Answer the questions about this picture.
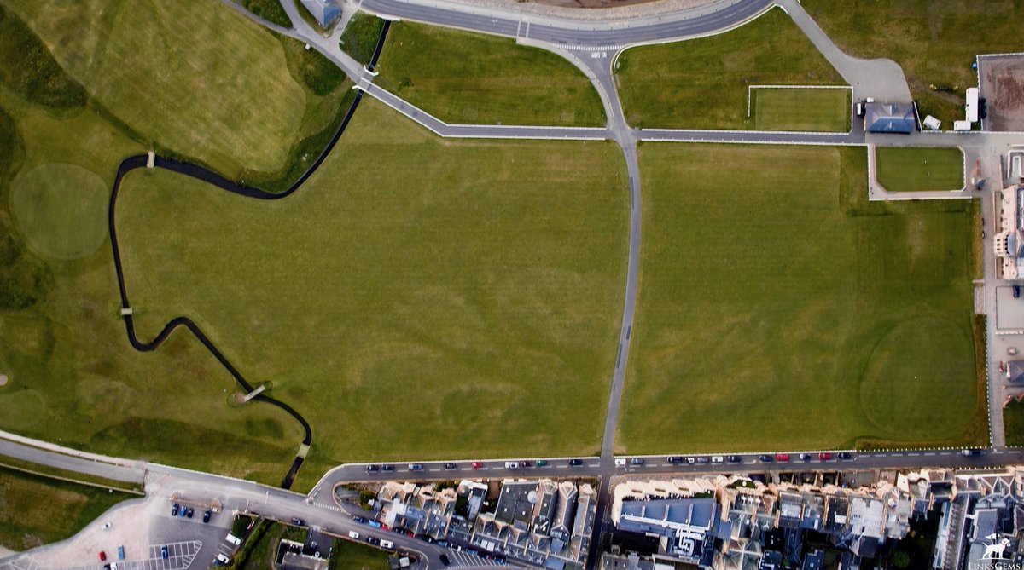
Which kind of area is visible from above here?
golf course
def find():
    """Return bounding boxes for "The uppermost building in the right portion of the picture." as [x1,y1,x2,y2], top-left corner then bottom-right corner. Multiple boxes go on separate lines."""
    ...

[861,101,916,134]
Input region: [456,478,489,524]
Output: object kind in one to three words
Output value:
house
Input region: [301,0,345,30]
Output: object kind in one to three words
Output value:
building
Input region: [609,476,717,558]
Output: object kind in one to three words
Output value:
building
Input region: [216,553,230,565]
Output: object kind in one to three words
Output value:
vehicle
